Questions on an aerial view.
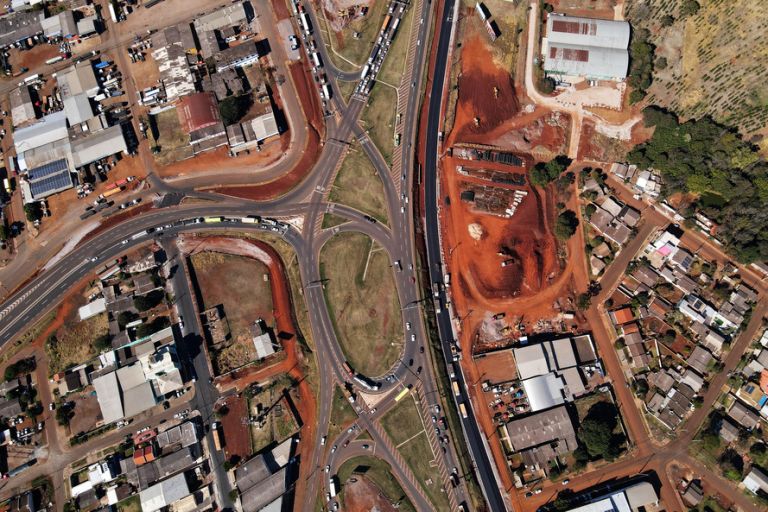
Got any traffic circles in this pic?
Yes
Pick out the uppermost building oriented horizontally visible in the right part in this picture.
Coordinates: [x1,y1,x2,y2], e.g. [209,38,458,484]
[546,14,630,49]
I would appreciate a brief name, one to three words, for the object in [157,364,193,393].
building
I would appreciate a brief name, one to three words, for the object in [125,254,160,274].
house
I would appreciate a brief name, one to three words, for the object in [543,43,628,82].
building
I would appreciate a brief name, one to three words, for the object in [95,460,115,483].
house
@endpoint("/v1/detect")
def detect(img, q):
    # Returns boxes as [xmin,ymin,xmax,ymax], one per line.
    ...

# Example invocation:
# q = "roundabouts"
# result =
[319,231,405,376]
